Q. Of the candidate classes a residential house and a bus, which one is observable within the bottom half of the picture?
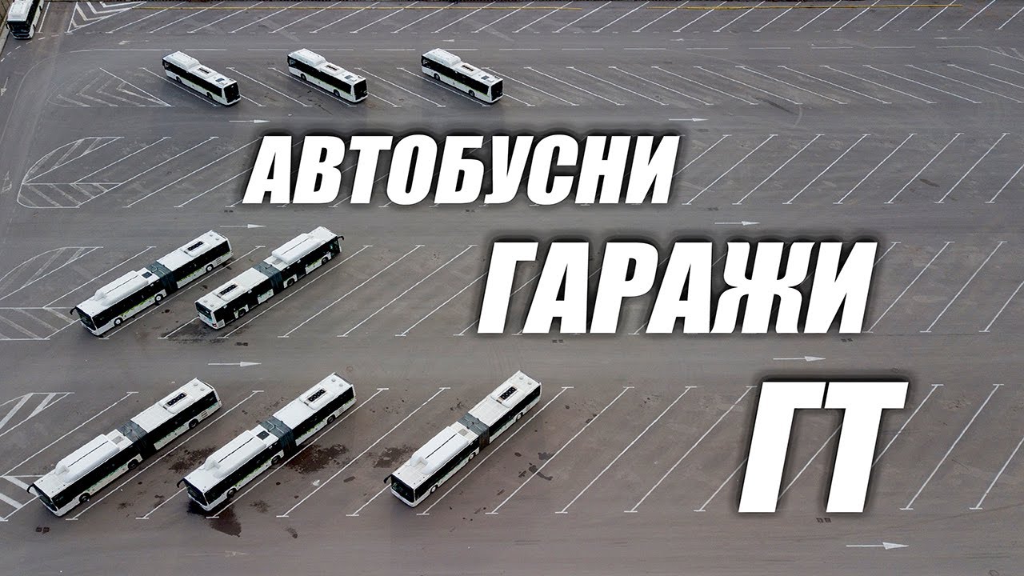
bus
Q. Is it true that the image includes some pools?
No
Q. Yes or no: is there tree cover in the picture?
No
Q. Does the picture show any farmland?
No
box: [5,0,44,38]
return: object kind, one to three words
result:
bus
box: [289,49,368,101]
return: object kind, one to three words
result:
bus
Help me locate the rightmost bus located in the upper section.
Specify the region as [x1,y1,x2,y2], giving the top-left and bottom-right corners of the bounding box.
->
[423,50,503,102]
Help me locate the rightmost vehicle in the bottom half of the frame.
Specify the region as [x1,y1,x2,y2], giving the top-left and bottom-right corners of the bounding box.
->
[384,371,540,506]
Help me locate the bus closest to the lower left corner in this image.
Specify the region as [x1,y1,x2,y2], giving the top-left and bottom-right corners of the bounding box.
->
[27,378,217,515]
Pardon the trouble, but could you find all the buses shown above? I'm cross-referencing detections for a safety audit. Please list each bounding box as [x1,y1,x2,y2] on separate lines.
[71,231,231,334]
[289,49,368,101]
[27,378,217,515]
[165,52,240,104]
[384,371,540,506]
[198,227,344,330]
[423,50,503,102]
[178,373,354,508]
[5,0,44,38]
